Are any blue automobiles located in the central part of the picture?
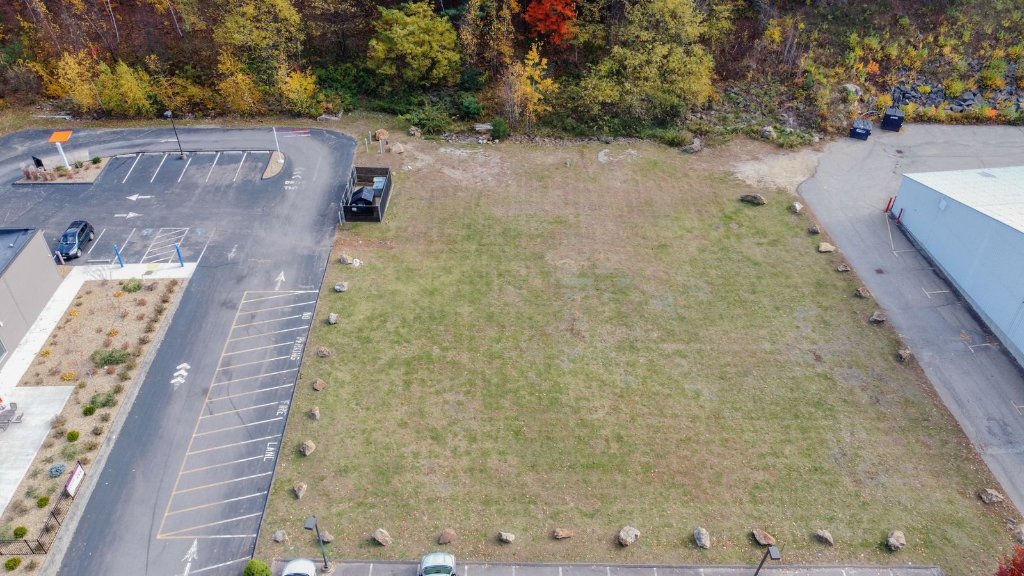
No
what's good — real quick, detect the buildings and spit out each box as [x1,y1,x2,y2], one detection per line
[0,225,63,367]
[884,169,1024,372]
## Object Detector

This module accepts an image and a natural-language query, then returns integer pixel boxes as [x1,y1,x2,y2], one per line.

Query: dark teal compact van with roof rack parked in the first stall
[56,220,95,259]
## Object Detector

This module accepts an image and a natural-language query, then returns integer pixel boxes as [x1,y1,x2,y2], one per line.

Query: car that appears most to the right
[417,554,455,576]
